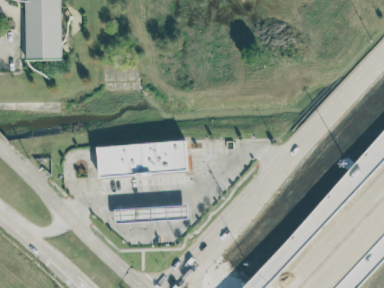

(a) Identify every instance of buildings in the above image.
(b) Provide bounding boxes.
[96,140,188,179]
[20,0,62,60]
